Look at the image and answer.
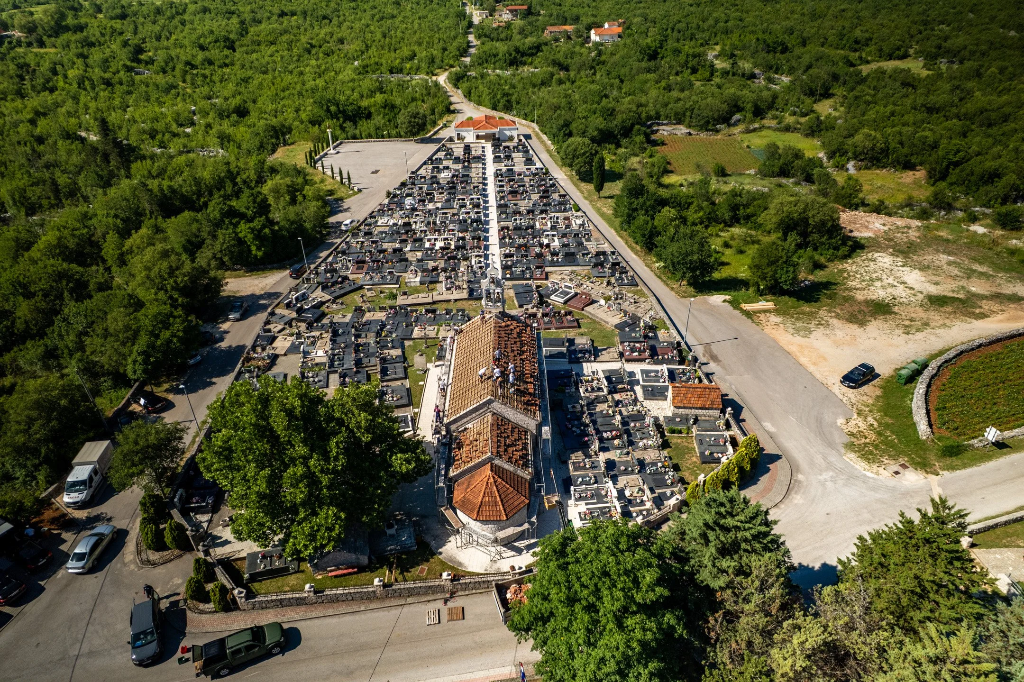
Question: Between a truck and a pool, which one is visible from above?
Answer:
truck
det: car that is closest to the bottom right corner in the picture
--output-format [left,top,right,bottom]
[842,356,883,387]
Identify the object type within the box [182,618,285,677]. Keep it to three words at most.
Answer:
truck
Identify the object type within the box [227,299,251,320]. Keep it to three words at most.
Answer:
car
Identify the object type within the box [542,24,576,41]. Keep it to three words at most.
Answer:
building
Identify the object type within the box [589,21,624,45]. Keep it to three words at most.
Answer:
house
